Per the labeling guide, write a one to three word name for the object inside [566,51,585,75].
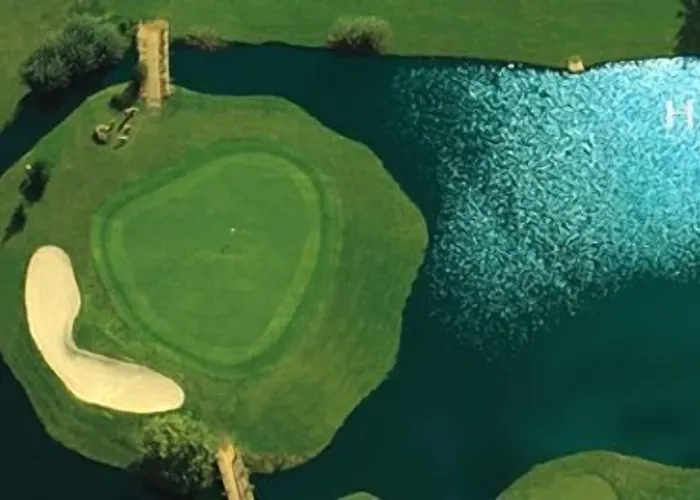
pier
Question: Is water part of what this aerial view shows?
Yes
